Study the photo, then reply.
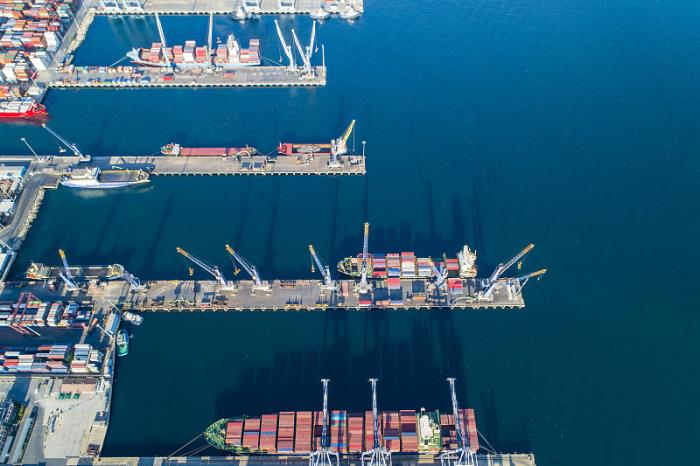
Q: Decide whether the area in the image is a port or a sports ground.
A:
port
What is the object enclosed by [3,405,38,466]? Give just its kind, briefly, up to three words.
building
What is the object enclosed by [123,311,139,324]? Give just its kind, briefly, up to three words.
boat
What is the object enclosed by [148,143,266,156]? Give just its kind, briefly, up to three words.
ship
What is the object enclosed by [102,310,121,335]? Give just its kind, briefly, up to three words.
building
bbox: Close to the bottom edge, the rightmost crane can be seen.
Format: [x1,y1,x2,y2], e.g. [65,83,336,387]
[438,379,485,466]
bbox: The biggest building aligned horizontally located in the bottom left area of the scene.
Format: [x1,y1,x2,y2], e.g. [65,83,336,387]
[53,374,100,392]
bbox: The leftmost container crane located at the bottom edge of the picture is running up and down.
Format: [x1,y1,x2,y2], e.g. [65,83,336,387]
[304,379,344,466]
